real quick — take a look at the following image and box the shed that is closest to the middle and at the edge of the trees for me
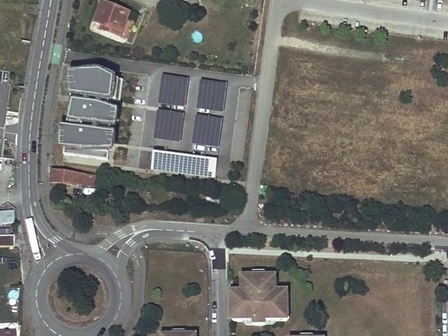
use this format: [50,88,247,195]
[152,150,217,180]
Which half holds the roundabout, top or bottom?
bottom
